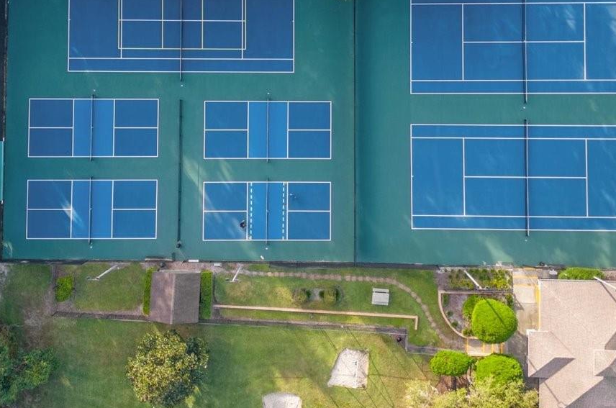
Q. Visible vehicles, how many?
0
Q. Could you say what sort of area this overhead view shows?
sports ground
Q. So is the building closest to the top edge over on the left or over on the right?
left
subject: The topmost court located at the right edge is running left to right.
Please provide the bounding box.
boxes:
[410,0,616,93]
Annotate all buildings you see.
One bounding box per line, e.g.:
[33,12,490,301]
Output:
[522,280,616,408]
[150,269,202,324]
